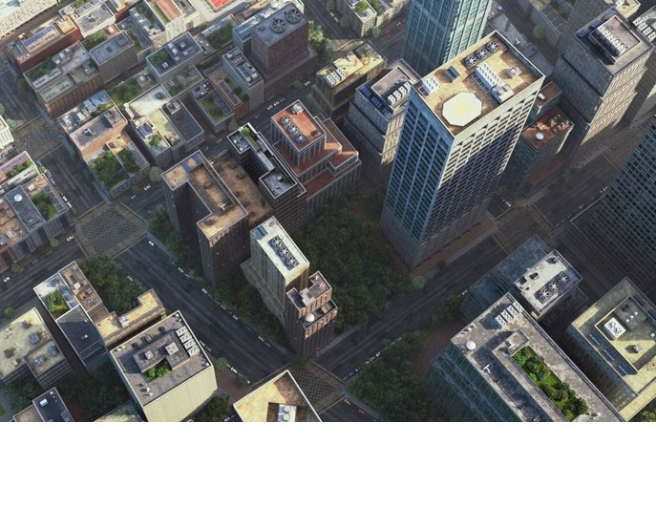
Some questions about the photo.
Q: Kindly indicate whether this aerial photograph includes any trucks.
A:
No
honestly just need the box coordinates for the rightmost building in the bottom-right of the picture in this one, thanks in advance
[616,385,656,424]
